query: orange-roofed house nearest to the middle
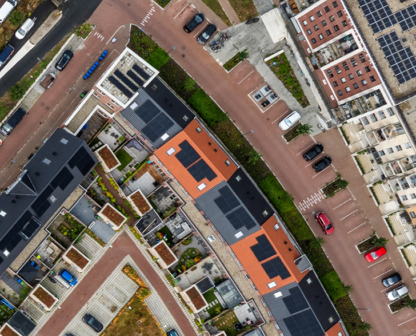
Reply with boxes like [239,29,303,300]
[145,117,240,200]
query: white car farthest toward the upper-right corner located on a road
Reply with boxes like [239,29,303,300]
[277,109,302,131]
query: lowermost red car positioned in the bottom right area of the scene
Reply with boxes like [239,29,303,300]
[361,247,388,263]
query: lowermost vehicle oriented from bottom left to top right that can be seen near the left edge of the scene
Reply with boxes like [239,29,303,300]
[0,108,25,138]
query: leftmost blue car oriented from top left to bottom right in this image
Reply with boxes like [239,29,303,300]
[57,266,79,288]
